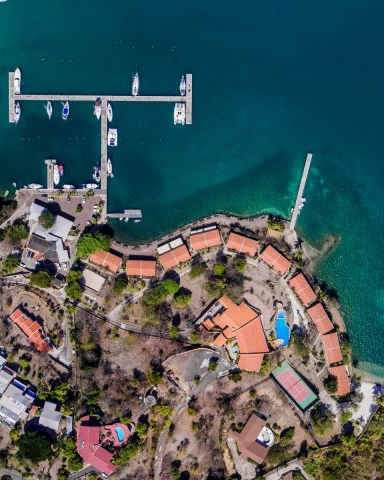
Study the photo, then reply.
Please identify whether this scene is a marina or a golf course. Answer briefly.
marina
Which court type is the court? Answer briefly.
tennis court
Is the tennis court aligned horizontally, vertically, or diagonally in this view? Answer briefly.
diagonally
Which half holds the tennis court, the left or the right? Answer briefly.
right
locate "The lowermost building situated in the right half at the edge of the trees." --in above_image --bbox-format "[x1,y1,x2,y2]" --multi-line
[227,412,268,460]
